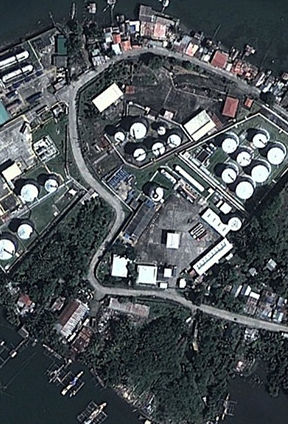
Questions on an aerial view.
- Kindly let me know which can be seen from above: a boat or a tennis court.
boat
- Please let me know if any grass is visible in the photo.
Yes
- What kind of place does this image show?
residential area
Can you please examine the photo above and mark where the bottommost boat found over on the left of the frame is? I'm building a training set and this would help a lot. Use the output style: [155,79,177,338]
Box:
[76,402,108,424]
